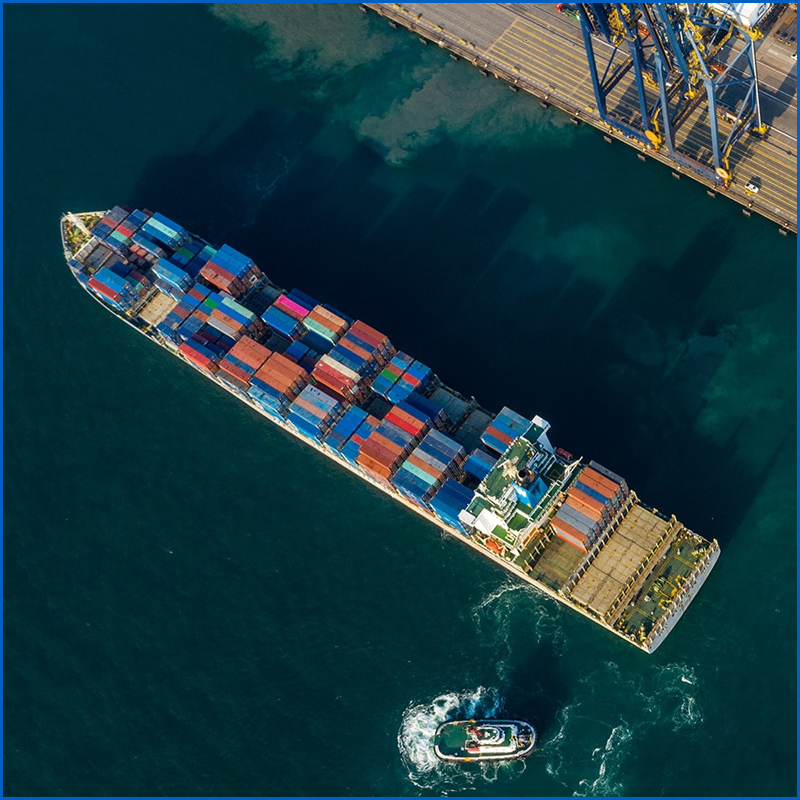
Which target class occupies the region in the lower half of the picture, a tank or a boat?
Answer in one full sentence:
Visible in the lower half of the picture is a boat.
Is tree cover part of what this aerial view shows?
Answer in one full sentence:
No, tree cover can't be seen anywhere here.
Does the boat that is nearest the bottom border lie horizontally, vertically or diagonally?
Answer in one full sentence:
What the image shows is the boat that is nearest the bottom border lying horizontally.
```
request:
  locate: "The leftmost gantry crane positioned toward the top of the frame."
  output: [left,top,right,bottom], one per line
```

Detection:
[574,0,695,147]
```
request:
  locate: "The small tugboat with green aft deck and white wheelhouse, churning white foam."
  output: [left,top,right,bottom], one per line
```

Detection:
[431,717,541,763]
